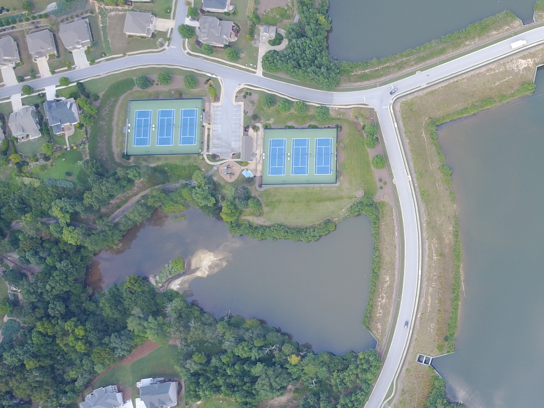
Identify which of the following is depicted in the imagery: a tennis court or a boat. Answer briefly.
tennis court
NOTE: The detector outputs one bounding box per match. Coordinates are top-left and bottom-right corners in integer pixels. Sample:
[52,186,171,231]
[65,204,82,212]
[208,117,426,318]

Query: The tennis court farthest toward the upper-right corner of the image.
[315,138,333,174]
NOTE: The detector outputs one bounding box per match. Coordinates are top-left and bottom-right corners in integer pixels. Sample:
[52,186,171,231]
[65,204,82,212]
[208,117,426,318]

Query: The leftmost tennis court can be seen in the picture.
[133,110,152,146]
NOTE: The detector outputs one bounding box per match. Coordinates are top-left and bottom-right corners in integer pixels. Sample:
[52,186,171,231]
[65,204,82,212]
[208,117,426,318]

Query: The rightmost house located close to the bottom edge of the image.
[135,377,181,408]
